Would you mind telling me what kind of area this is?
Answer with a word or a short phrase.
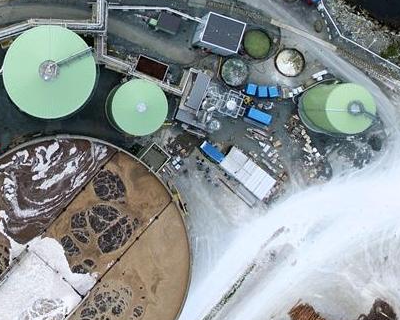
industrial area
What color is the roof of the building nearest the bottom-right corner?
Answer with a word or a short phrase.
white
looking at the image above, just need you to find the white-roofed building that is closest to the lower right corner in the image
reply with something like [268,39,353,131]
[227,157,276,200]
